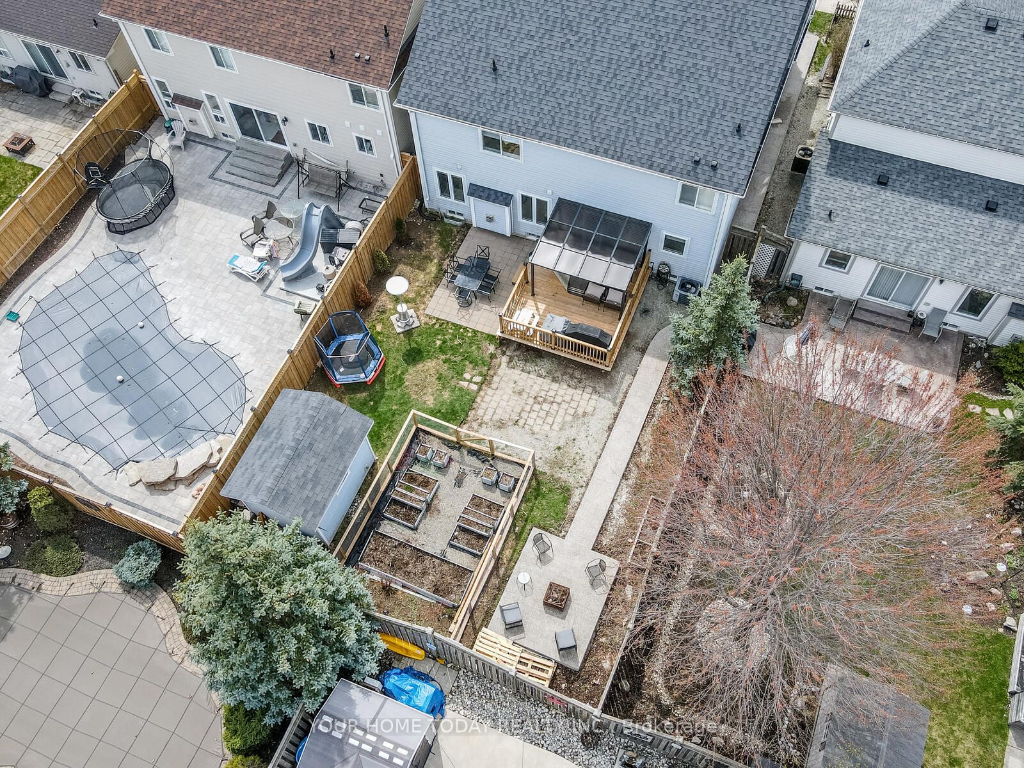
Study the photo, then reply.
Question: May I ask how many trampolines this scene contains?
2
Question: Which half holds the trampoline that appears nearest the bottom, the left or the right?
left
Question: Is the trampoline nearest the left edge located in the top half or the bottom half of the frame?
top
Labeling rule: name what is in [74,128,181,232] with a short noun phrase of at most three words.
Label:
trampoline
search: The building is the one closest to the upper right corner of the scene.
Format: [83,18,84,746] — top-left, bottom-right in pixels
[781,0,1024,355]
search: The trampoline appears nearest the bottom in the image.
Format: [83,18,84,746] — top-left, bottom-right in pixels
[312,314,383,388]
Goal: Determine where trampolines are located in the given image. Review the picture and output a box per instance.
[312,314,383,388]
[74,128,181,232]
